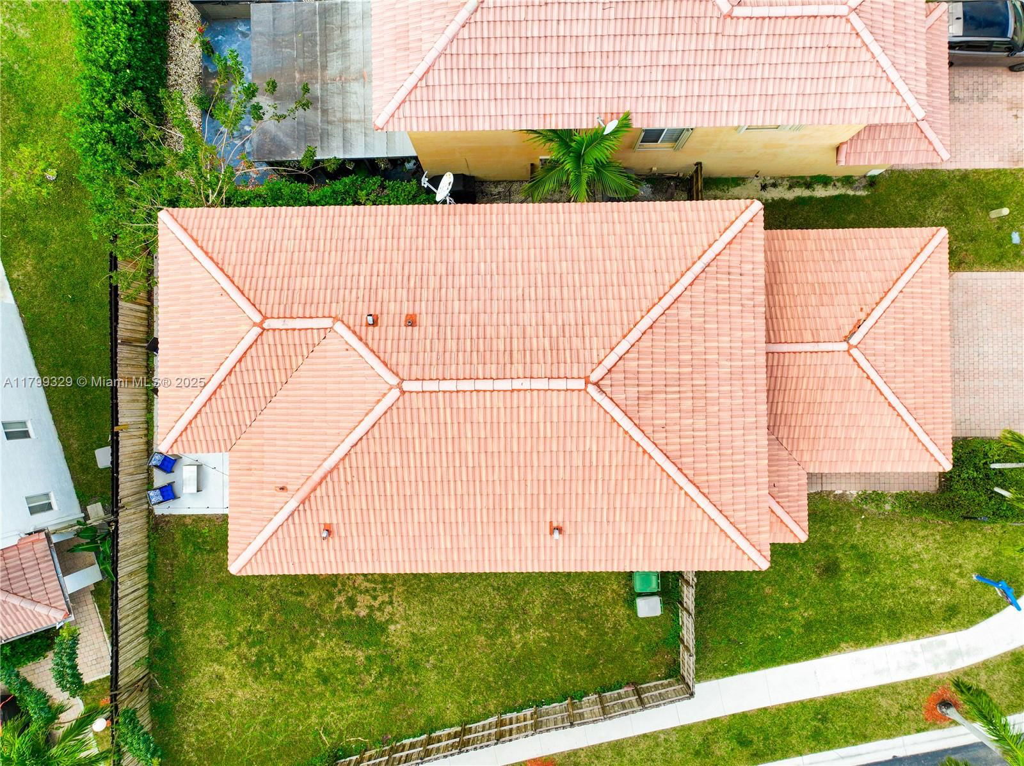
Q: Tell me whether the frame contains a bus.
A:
No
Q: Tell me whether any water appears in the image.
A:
No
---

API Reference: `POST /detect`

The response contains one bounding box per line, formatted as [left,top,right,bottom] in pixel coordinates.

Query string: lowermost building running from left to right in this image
[146,194,958,580]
